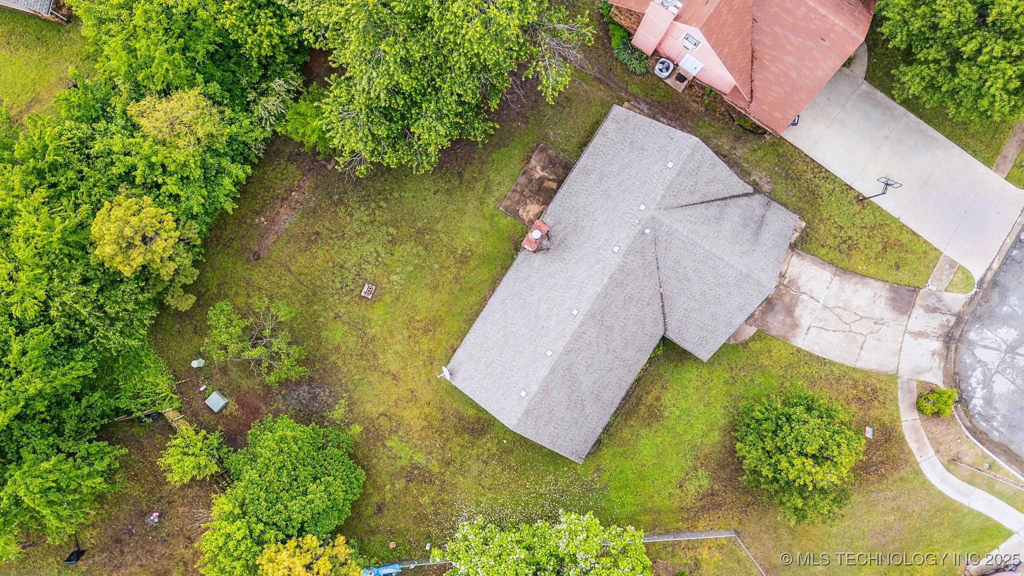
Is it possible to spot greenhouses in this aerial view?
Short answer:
No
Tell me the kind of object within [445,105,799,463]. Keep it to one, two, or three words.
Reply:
house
